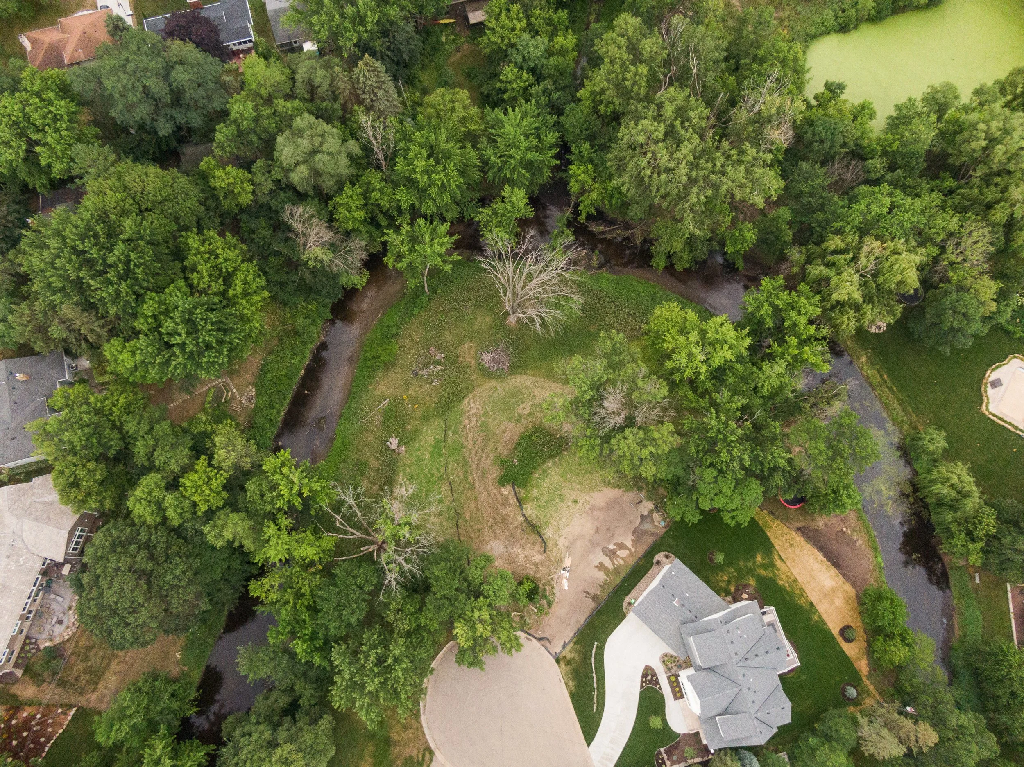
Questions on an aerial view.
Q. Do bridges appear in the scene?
No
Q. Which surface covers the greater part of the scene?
trees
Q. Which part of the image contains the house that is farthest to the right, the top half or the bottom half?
bottom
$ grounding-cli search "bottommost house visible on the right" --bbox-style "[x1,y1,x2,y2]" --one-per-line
[632,558,801,760]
